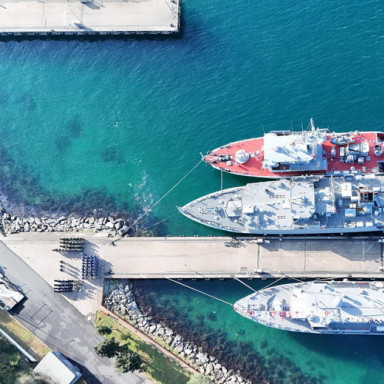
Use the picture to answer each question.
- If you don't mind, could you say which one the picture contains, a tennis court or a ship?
ship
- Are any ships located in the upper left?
No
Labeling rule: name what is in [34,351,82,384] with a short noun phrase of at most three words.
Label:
shed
